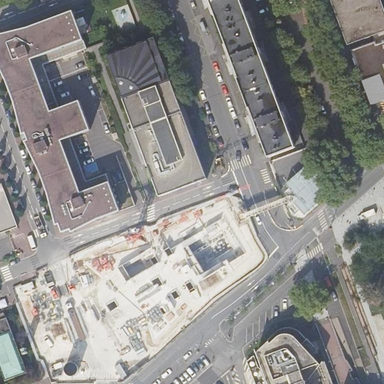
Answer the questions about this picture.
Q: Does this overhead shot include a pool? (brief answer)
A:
No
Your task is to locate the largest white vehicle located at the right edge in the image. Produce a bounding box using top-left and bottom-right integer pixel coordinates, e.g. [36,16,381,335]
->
[359,207,376,219]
